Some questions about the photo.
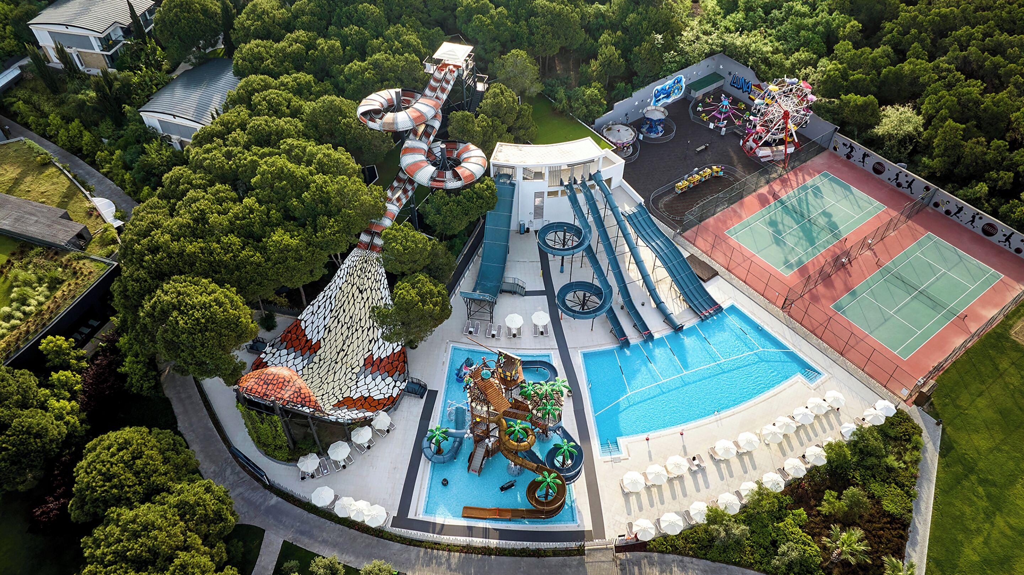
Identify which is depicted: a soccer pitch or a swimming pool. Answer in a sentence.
The one in the frame is a swimming pool.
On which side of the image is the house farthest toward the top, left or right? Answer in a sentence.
It is on the left.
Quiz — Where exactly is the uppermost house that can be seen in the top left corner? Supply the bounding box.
[22,0,148,74]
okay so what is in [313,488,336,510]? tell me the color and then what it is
white umbrella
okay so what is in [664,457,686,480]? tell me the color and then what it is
white umbrella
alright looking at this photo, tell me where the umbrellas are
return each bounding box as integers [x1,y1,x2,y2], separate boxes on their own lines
[872,401,895,419]
[760,474,783,496]
[860,409,883,430]
[299,455,322,477]
[313,488,336,510]
[784,459,807,482]
[772,417,795,437]
[664,457,686,480]
[349,502,370,525]
[689,502,712,525]
[804,399,827,417]
[822,391,843,413]
[737,434,758,455]
[532,313,550,333]
[372,415,393,437]
[620,475,643,497]
[334,497,356,520]
[657,514,681,537]
[792,408,814,429]
[630,520,654,543]
[734,480,758,503]
[716,493,739,515]
[330,442,353,465]
[714,441,736,463]
[834,423,857,443]
[505,316,524,335]
[803,447,826,469]
[364,506,386,529]
[645,466,667,488]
